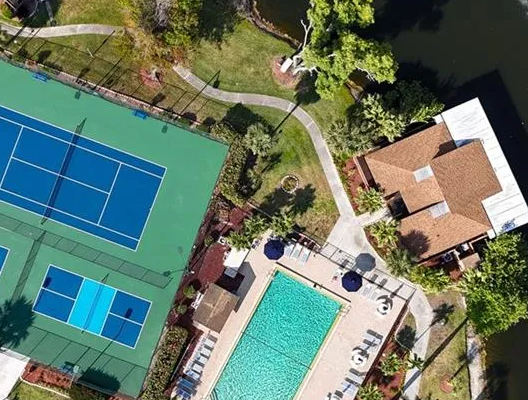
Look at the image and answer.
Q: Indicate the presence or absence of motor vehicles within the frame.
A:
No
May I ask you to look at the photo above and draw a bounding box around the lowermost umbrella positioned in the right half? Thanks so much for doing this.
[342,271,363,291]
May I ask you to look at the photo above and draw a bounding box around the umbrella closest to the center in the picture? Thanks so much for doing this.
[265,239,285,259]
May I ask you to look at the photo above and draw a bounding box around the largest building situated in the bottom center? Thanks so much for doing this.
[192,283,239,333]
